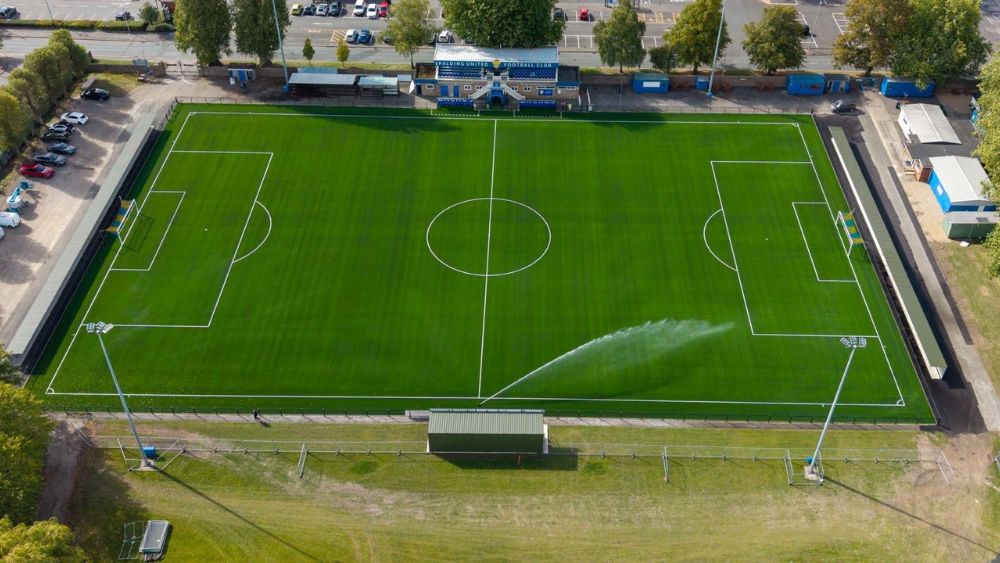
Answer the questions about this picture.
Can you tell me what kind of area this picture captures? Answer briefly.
sports ground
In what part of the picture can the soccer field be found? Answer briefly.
center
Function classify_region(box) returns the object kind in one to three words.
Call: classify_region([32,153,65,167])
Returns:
vehicle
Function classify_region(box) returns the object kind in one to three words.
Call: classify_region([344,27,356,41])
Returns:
vehicle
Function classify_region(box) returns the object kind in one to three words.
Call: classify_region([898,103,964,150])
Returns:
building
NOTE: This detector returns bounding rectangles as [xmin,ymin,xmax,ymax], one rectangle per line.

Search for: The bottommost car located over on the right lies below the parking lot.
[830,100,857,113]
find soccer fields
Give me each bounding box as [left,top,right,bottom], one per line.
[20,104,938,423]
